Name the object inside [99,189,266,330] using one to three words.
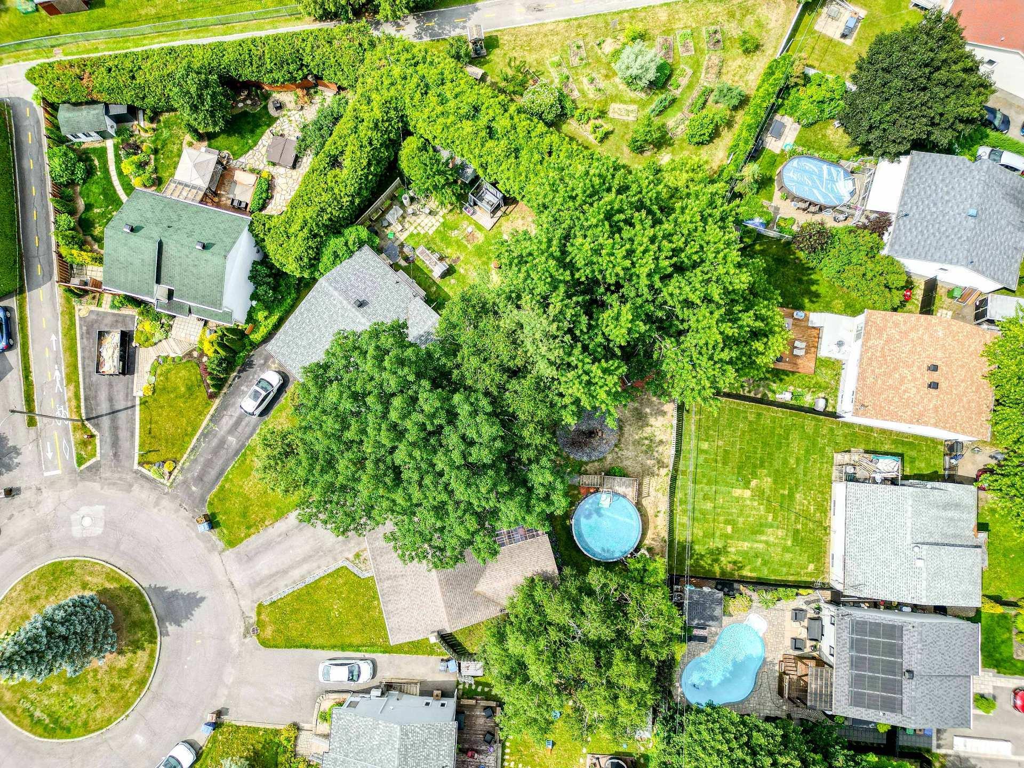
house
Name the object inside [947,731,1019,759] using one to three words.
trailer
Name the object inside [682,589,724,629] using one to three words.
shed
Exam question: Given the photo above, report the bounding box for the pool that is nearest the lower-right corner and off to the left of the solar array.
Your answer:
[680,613,768,706]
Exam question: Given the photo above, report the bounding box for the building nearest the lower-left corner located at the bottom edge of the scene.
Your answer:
[322,686,459,768]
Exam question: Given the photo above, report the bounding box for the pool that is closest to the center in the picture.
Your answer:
[570,489,642,562]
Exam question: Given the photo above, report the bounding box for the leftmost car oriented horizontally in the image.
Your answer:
[315,658,375,687]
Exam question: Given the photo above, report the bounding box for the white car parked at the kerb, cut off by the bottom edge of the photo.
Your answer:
[157,736,199,768]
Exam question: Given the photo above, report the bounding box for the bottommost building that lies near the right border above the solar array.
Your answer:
[829,479,988,607]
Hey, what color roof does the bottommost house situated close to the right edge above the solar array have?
white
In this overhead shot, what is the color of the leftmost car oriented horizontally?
white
